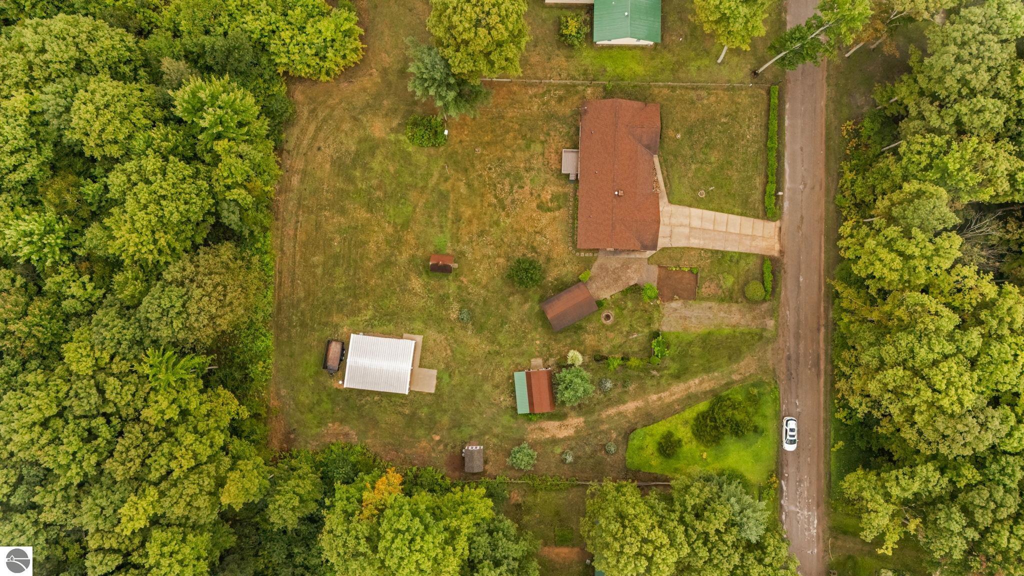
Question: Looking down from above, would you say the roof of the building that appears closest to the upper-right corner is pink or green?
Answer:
green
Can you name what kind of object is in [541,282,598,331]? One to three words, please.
shed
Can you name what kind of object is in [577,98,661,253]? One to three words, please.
house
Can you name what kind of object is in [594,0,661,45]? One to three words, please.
building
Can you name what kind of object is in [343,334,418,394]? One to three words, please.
barn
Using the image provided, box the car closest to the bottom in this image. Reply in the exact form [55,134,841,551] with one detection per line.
[781,417,800,451]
